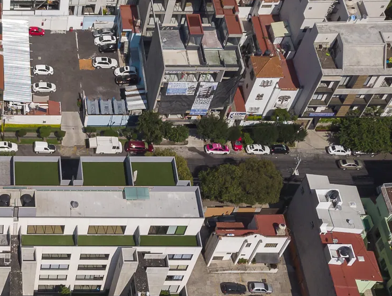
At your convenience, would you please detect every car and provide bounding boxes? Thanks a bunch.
[32,63,55,75]
[0,141,18,153]
[247,281,273,295]
[127,140,151,154]
[33,140,56,153]
[92,27,115,37]
[32,82,56,92]
[96,44,119,54]
[353,145,376,157]
[114,65,137,77]
[218,282,248,296]
[325,144,352,156]
[245,143,270,155]
[29,26,47,37]
[269,143,291,155]
[232,139,245,154]
[337,158,364,169]
[115,74,139,85]
[204,143,230,155]
[93,35,117,46]
[93,56,116,69]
